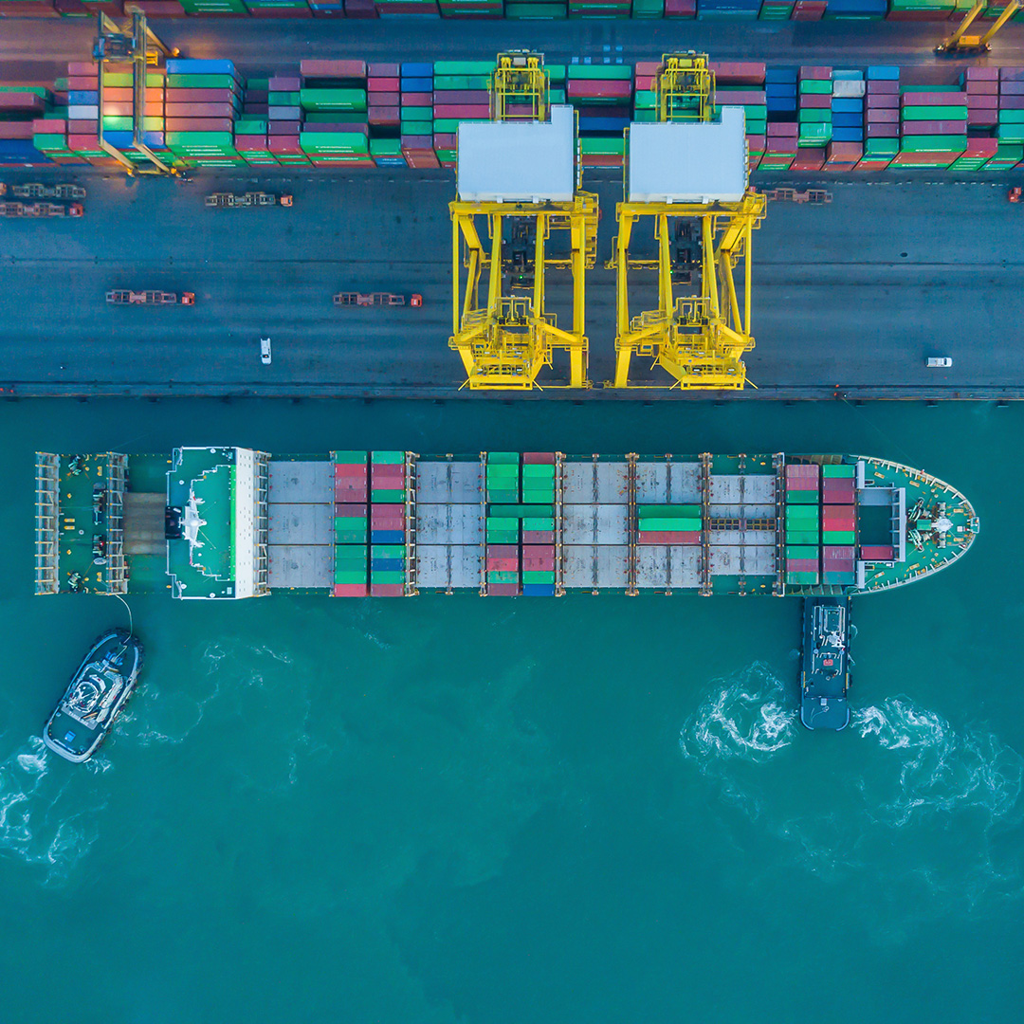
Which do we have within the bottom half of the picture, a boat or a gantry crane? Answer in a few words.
boat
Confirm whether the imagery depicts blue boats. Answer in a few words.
Yes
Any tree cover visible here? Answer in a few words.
No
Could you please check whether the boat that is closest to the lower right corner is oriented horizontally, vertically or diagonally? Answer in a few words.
vertically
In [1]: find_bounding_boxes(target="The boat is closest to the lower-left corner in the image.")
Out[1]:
[43,630,142,764]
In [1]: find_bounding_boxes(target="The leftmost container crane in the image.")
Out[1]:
[83,1,179,177]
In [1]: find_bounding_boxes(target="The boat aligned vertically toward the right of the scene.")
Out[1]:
[796,594,855,732]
